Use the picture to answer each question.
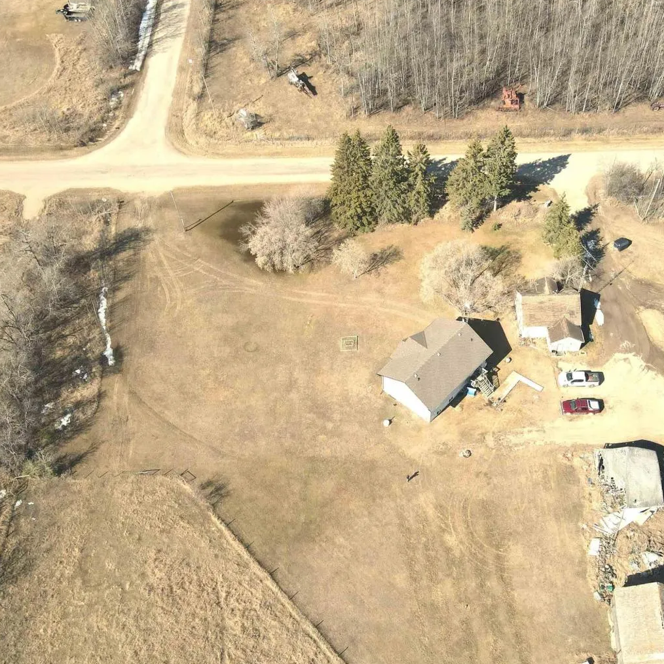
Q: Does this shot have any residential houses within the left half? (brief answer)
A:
No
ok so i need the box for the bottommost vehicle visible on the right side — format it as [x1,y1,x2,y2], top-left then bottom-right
[560,397,605,415]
